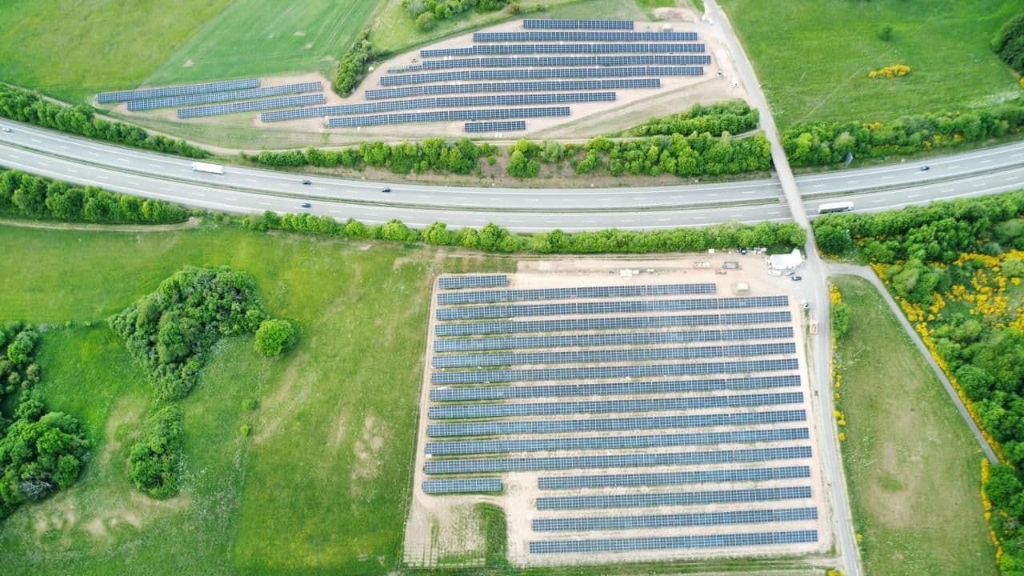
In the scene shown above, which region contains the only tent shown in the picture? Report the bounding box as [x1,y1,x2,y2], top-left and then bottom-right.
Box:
[768,248,801,271]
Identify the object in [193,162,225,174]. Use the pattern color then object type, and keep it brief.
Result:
white vehicle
